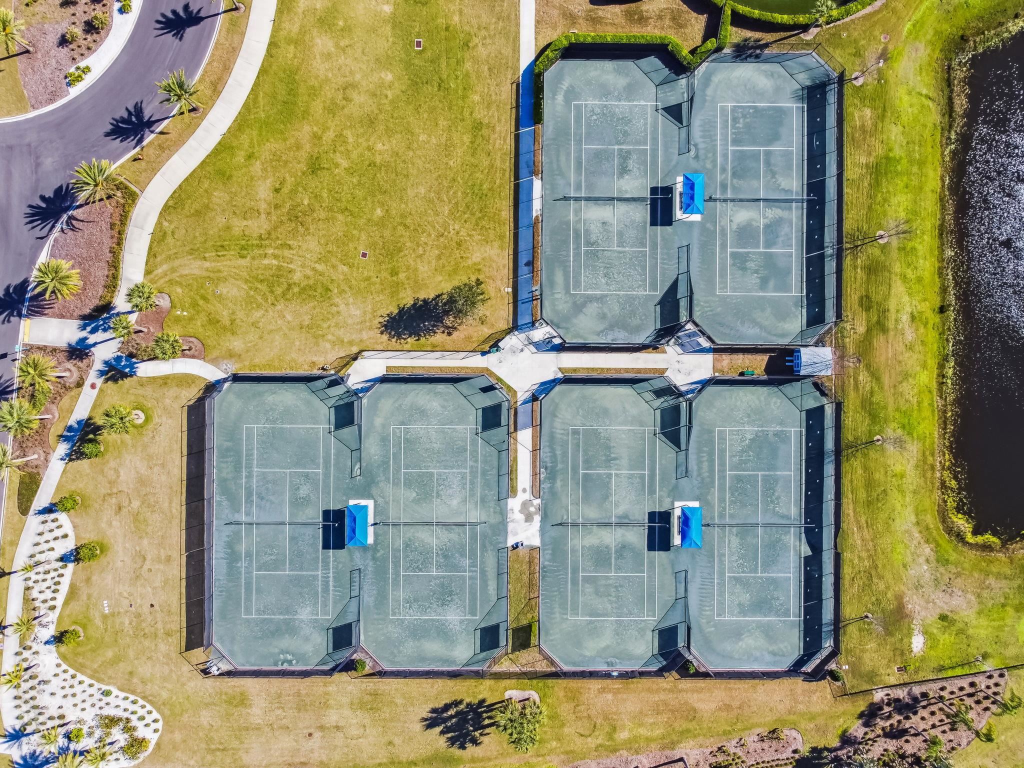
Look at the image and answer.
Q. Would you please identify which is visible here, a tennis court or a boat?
tennis court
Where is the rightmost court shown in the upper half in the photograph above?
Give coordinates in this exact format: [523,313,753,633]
[689,53,835,346]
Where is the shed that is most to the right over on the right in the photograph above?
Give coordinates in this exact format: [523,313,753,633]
[786,346,834,375]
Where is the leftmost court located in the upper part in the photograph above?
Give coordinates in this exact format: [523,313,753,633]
[542,52,689,344]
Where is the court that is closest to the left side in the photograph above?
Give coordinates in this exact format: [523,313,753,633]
[212,374,361,670]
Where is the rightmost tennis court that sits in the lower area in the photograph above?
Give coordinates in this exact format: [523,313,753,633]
[685,377,833,671]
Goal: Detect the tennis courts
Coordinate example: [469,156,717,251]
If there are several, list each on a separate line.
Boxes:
[212,374,361,670]
[540,376,687,670]
[689,53,835,346]
[360,375,509,670]
[542,52,689,344]
[685,377,833,671]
